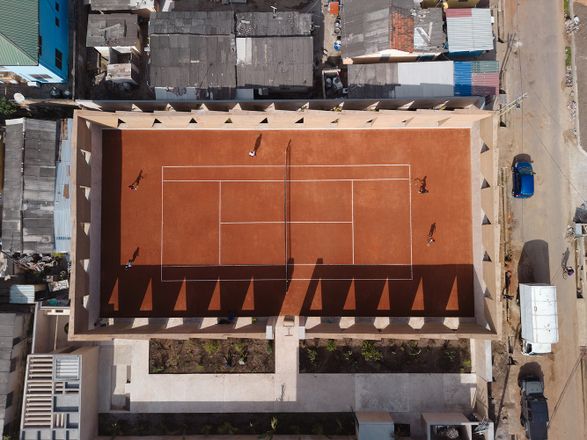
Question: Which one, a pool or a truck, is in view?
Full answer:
Looking from above, you can make out a truck.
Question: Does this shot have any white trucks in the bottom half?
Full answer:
Yes, there is a white truck in the bottom half.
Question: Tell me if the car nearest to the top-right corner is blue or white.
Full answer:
In this view, the car nearest to the top-right corner is blue.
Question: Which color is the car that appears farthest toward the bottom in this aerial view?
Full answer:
From above, the car that appears farthest toward the bottom appears black.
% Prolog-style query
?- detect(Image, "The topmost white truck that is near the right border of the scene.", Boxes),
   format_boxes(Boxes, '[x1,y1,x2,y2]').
[513,281,558,352]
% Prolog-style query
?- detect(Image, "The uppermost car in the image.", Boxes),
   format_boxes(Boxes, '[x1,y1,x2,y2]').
[510,158,535,198]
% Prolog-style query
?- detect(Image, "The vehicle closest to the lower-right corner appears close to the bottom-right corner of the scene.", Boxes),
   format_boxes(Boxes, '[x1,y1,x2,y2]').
[517,378,548,440]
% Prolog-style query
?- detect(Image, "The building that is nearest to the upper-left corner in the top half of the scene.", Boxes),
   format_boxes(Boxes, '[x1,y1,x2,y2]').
[0,0,68,86]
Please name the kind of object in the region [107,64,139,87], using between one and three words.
shed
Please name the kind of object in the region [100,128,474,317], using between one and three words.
tennis court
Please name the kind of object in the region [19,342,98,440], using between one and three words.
building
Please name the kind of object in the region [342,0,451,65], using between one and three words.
house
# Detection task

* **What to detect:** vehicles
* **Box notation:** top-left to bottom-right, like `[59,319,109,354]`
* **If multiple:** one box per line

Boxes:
[513,281,558,352]
[510,158,535,198]
[517,378,548,440]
